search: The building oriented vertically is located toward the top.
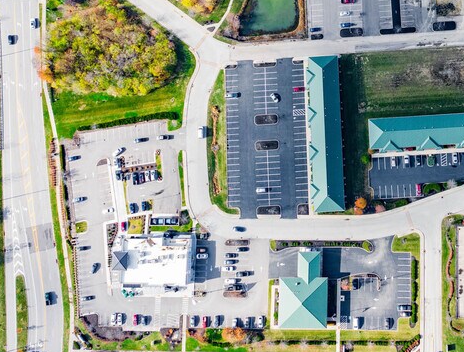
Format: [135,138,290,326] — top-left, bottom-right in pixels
[305,57,345,213]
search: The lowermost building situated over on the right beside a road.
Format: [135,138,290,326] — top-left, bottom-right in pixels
[279,252,329,329]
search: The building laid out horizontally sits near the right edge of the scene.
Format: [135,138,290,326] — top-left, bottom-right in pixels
[369,113,464,153]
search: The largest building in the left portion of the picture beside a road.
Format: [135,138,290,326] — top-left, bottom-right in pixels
[112,235,198,292]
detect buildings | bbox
[305,57,345,213]
[279,252,329,329]
[369,113,464,153]
[112,235,198,292]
